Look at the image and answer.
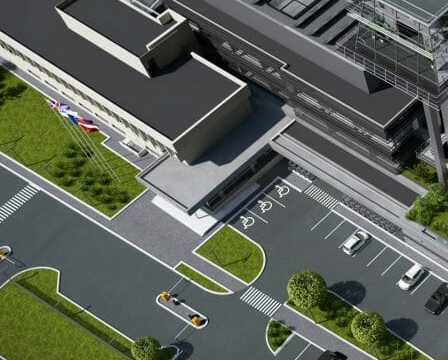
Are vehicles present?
Yes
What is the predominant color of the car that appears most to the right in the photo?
black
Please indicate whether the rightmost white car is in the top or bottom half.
bottom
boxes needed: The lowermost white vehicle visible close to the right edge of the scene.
[396,263,427,292]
